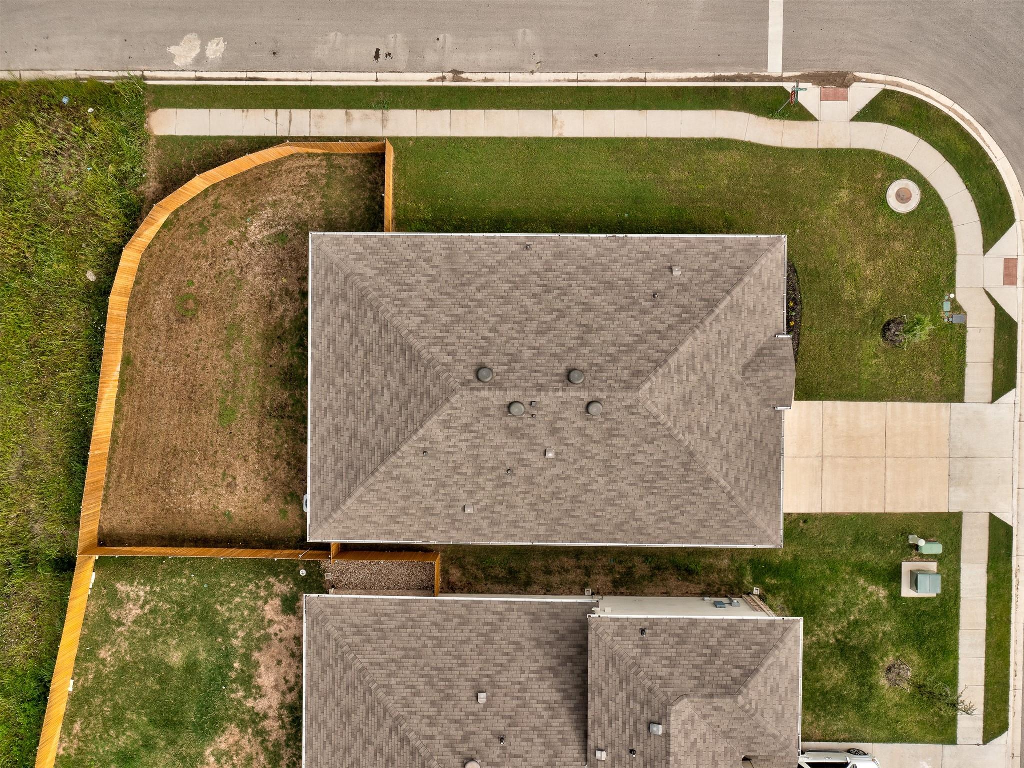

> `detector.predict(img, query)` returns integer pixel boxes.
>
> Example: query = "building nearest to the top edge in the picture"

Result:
[308,233,797,546]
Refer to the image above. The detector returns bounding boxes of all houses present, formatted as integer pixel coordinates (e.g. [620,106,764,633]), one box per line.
[308,233,797,546]
[302,584,803,768]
